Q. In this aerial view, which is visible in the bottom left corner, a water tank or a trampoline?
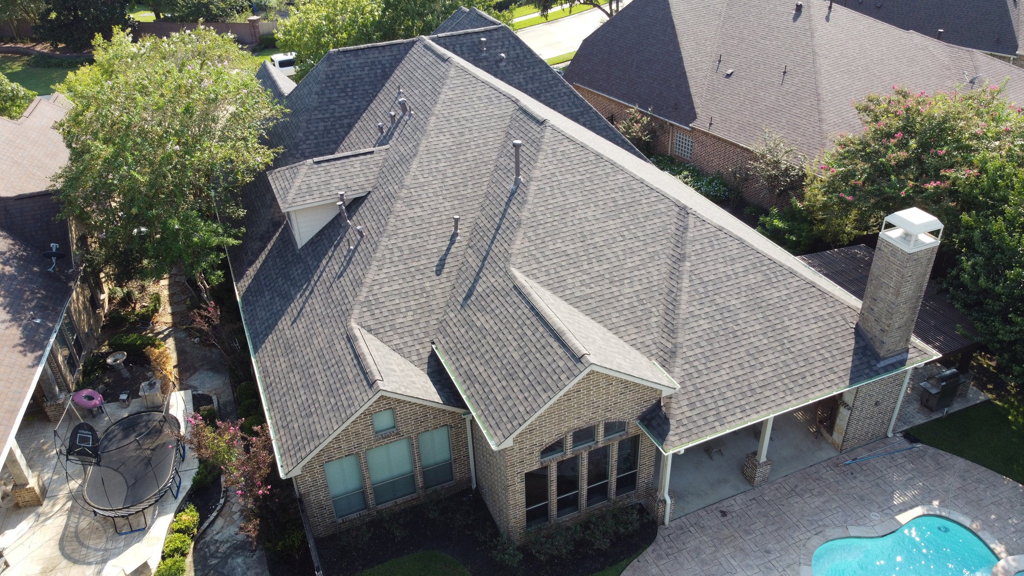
trampoline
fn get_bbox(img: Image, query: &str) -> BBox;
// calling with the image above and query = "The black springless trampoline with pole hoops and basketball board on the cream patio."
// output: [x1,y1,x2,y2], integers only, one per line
[55,375,188,534]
